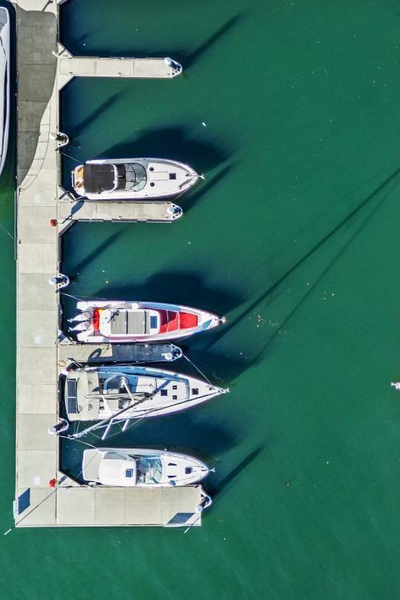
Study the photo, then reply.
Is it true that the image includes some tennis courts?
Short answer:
No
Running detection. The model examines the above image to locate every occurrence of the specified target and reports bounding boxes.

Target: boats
[84,445,217,488]
[69,301,228,342]
[71,159,205,200]
[60,367,228,438]
[0,6,15,194]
